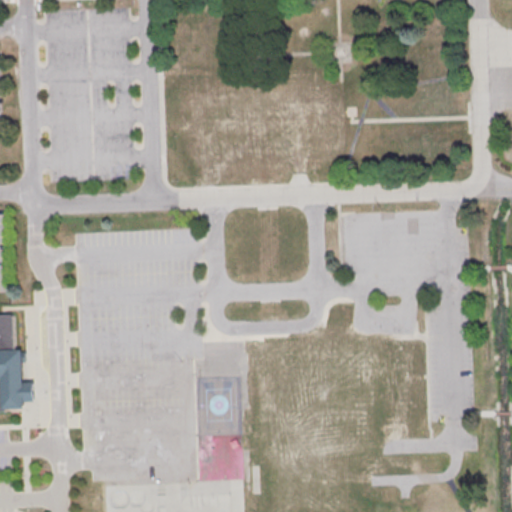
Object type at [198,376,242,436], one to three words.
sports court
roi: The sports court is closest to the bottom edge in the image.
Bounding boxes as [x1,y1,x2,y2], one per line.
[200,436,244,481]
